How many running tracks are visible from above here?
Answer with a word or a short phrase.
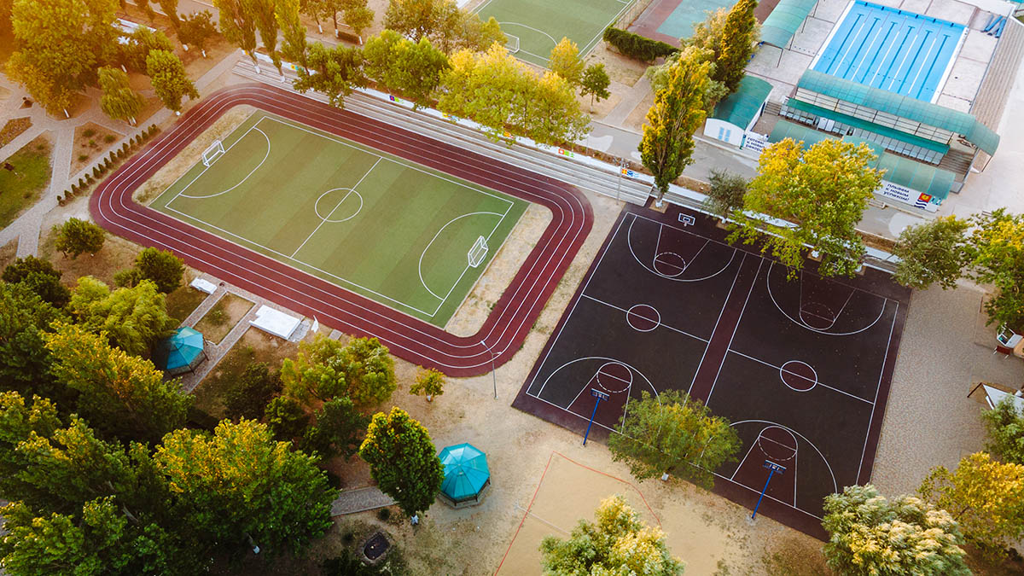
1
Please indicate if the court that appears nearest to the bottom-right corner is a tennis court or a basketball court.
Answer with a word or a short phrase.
basketball court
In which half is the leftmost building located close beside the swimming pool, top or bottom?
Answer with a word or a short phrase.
top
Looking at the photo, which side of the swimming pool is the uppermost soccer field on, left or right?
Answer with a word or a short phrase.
to the left of it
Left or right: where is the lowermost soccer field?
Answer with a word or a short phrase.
left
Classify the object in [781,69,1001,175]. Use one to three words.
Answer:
building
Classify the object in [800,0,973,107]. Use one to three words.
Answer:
swimming pool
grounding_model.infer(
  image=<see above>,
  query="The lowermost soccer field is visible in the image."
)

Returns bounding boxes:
[146,107,533,332]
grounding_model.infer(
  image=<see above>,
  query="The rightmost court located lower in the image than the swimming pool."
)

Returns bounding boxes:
[685,258,898,517]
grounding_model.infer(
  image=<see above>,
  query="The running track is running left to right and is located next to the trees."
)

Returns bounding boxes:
[93,82,591,378]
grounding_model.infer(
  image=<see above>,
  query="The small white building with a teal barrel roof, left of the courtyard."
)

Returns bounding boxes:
[703,75,771,148]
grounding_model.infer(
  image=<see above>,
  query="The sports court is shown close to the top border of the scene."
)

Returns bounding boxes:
[629,0,779,71]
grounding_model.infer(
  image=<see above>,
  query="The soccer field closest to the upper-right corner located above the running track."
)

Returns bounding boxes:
[444,0,639,74]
